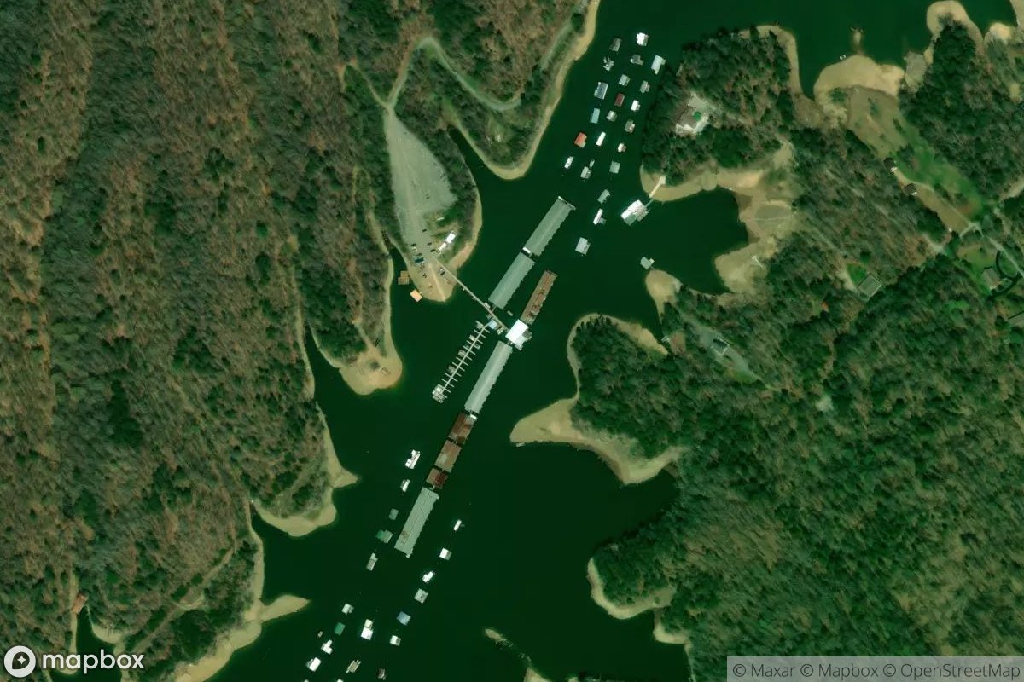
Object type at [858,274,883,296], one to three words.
house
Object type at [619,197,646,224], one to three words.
building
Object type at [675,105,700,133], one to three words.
house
